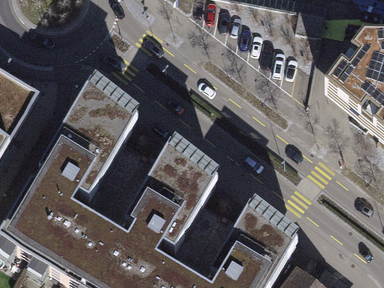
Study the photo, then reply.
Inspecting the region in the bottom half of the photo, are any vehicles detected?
Yes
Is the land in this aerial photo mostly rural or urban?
urban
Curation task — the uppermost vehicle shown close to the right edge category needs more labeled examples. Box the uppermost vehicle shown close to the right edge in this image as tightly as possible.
[354,199,376,218]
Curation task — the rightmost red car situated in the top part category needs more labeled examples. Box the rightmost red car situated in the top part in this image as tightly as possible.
[204,5,217,28]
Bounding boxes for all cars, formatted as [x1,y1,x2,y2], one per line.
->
[100,54,127,74]
[250,36,264,62]
[229,16,242,40]
[238,28,251,54]
[108,0,125,20]
[192,2,204,26]
[218,10,230,36]
[282,145,307,168]
[148,121,174,143]
[140,37,166,58]
[196,82,218,102]
[356,246,376,266]
[204,5,217,28]
[260,45,273,71]
[354,199,376,218]
[284,59,298,86]
[272,54,286,82]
